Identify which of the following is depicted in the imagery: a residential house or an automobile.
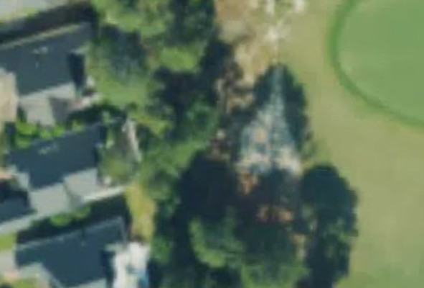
residential house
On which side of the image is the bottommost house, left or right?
left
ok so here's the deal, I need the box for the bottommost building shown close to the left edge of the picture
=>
[19,219,126,288]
